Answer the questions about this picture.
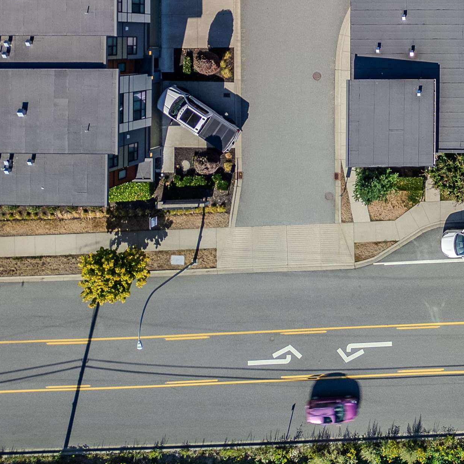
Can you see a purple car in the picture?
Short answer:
Yes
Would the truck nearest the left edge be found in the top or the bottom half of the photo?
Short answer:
top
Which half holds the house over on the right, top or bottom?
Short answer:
top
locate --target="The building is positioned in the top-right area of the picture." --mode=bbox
[344,0,464,168]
